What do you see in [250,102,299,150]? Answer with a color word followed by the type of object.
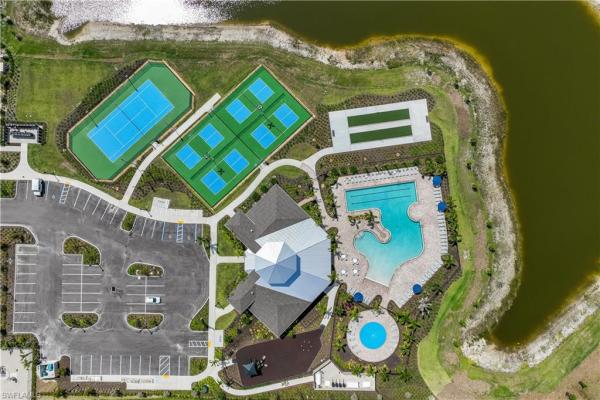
blue sports court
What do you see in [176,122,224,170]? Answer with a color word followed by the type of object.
blue sports court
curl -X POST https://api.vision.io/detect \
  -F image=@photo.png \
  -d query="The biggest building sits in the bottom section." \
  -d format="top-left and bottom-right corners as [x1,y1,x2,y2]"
[224,184,332,339]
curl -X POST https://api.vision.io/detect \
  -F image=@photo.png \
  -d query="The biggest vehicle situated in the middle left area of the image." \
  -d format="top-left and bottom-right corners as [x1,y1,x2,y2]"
[32,178,46,197]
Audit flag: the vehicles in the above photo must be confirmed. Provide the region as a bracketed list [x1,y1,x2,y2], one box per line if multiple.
[146,295,162,303]
[32,178,46,197]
